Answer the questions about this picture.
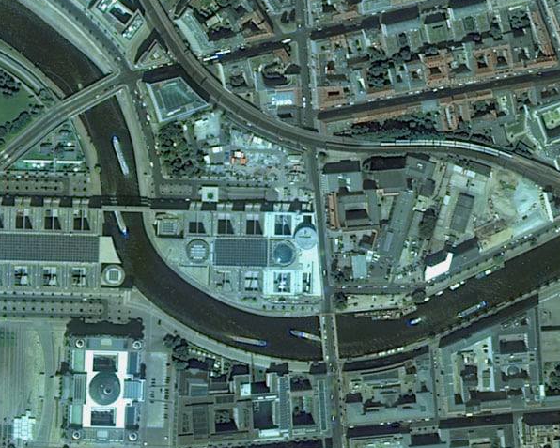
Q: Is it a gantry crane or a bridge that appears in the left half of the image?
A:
bridge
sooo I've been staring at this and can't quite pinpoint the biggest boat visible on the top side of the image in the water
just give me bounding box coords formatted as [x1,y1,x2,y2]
[113,138,128,175]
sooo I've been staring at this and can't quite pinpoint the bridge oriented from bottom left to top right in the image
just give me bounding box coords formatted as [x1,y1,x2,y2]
[54,68,126,121]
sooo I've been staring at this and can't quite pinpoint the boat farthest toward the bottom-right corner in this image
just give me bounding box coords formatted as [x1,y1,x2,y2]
[457,303,486,319]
